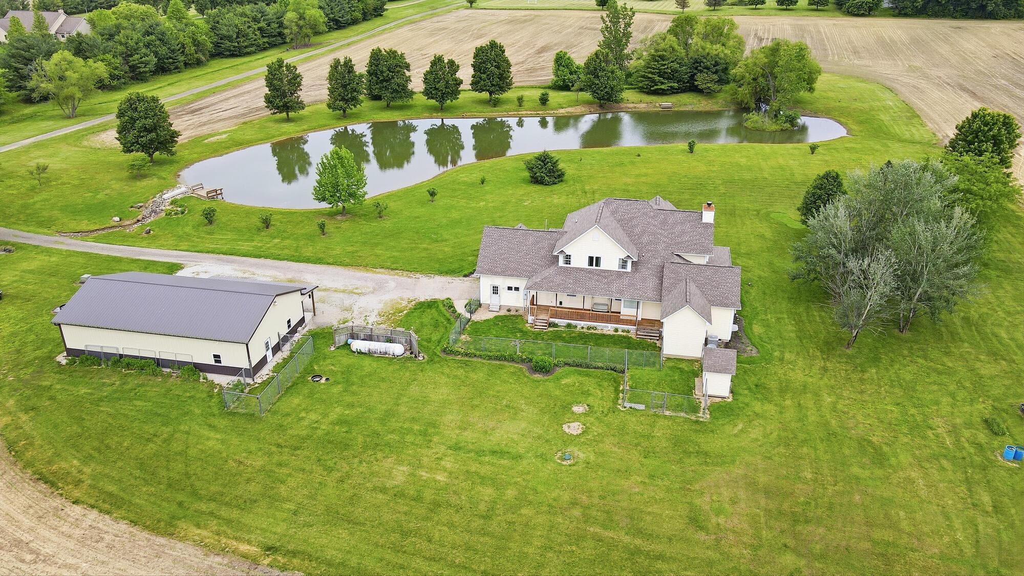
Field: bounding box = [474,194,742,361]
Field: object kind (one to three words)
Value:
house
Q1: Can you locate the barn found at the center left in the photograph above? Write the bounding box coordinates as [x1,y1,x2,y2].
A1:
[50,272,318,378]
